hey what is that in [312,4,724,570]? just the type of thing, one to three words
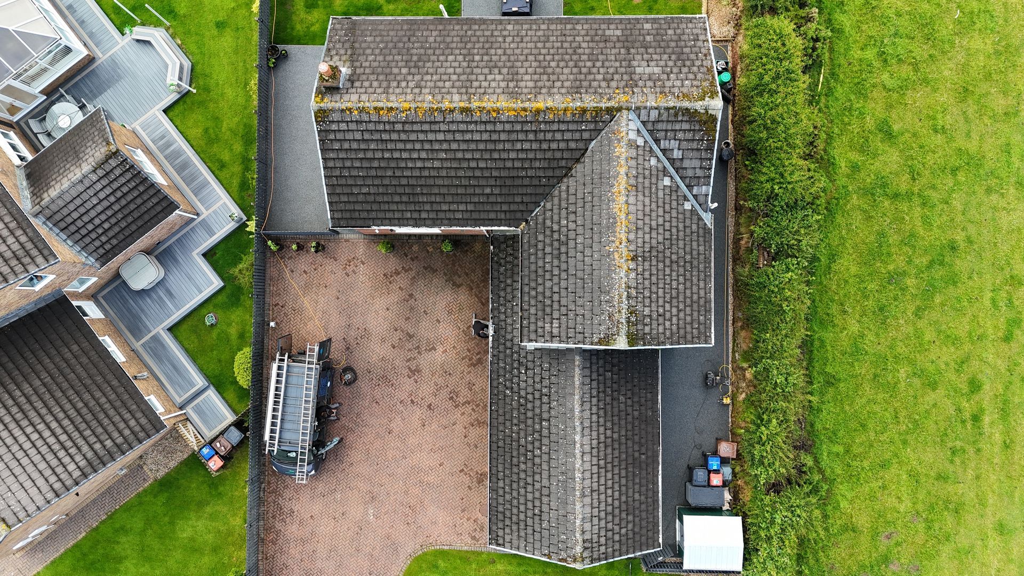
house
